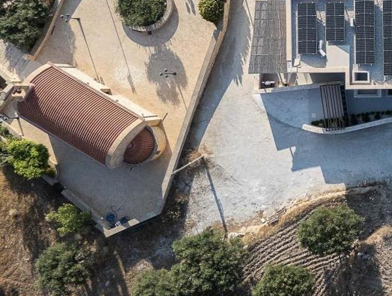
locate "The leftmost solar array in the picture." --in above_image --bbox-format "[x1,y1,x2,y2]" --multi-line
[298,1,319,56]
